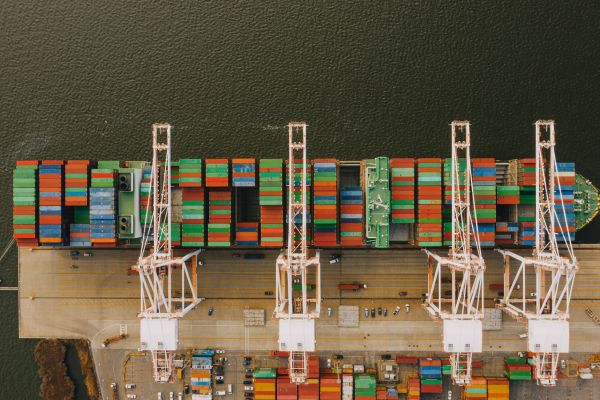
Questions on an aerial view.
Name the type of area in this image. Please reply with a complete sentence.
This looks like a port.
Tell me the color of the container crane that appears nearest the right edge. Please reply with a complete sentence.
The container crane that appears nearest the right edge looks white in the image.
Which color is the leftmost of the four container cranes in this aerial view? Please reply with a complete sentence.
The color of the leftmost of the four container cranes is white.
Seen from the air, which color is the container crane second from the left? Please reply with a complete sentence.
From above, the container crane second from the left appears white.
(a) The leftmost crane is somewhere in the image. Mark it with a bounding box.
[135,122,204,382]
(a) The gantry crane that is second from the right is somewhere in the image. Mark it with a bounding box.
[415,122,490,382]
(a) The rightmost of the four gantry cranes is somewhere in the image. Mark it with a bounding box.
[489,122,582,382]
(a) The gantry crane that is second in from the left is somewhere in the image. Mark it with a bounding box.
[272,122,324,382]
